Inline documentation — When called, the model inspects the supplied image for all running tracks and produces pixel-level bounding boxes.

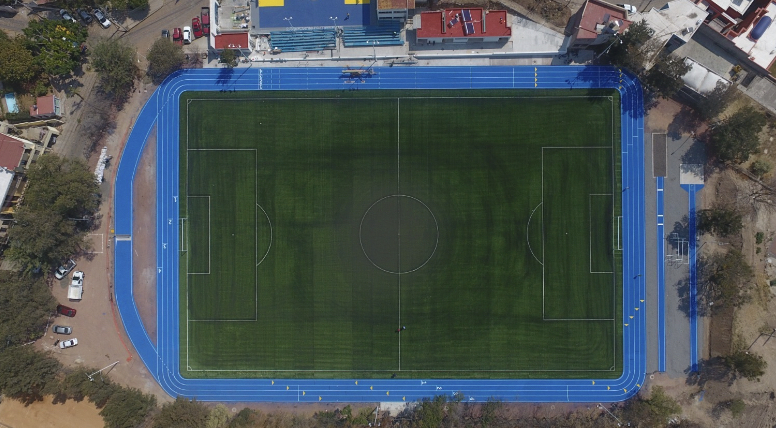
[114,64,646,403]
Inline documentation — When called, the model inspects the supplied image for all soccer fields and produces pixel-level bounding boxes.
[179,87,623,380]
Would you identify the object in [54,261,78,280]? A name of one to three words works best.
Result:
vehicle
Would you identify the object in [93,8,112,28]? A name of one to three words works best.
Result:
car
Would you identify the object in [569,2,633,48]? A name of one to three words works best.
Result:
building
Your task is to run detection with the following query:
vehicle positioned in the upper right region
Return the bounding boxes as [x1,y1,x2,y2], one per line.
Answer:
[618,1,640,14]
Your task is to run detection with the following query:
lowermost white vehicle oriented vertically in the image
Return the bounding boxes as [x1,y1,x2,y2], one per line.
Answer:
[67,271,83,302]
